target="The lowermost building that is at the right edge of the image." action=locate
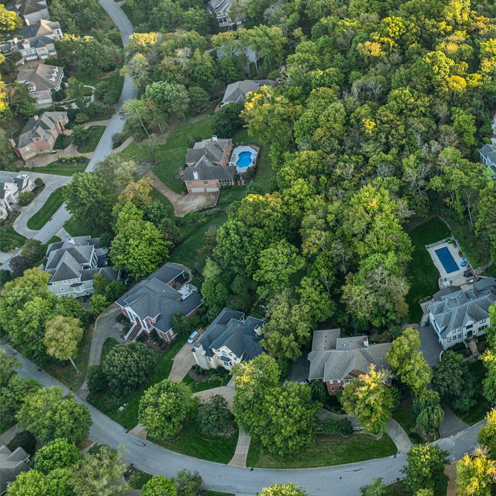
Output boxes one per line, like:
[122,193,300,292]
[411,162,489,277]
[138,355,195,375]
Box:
[425,276,496,349]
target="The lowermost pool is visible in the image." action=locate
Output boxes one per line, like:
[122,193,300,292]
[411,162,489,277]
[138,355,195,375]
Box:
[433,245,462,275]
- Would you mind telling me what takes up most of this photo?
trees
